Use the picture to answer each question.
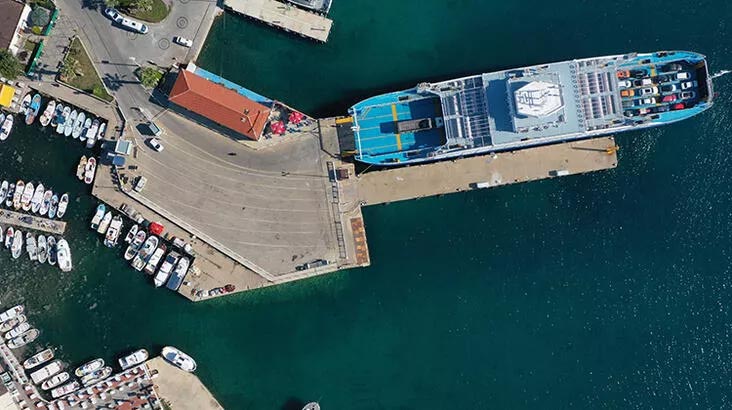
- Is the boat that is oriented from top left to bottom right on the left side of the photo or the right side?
left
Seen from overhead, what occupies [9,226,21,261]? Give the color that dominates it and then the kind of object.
white boat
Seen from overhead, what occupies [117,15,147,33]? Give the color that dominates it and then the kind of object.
white vehicle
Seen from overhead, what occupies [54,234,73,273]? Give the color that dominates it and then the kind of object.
white boat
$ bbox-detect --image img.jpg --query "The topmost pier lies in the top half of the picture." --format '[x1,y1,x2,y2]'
[223,0,332,43]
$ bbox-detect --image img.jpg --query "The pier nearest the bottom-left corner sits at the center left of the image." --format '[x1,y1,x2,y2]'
[0,209,68,234]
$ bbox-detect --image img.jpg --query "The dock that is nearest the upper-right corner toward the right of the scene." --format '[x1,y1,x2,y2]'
[362,136,617,206]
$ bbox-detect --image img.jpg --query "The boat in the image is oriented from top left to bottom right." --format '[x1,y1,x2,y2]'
[159,346,197,374]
